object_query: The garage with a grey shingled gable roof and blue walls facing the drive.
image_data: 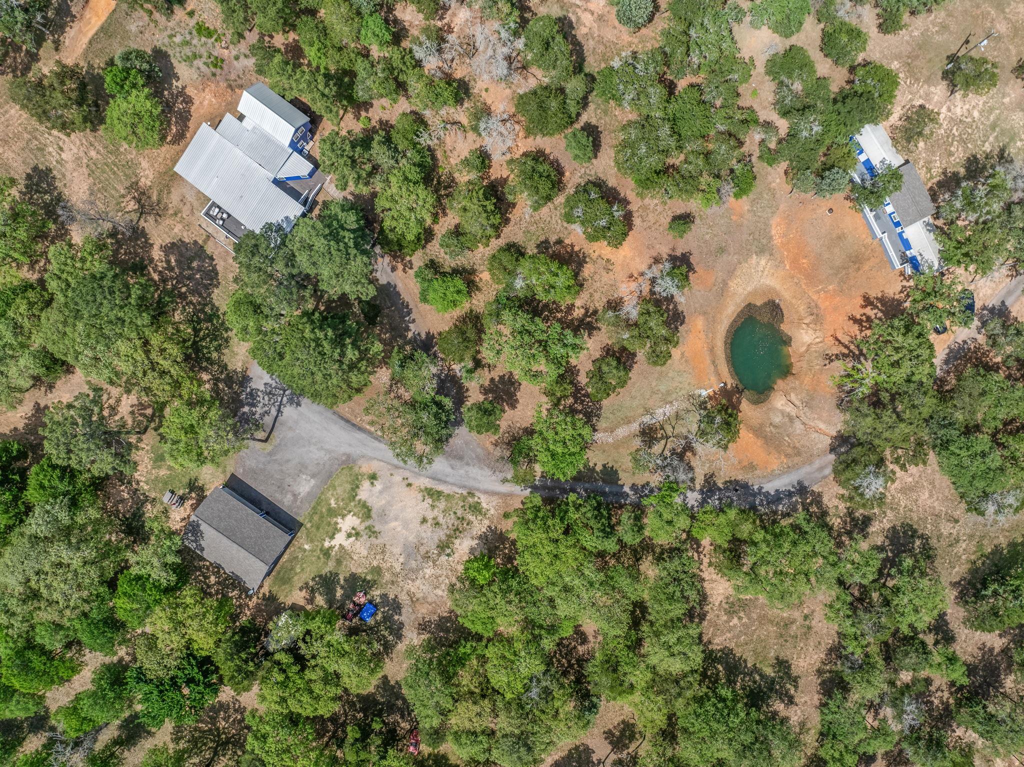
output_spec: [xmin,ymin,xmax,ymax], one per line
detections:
[180,484,295,591]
